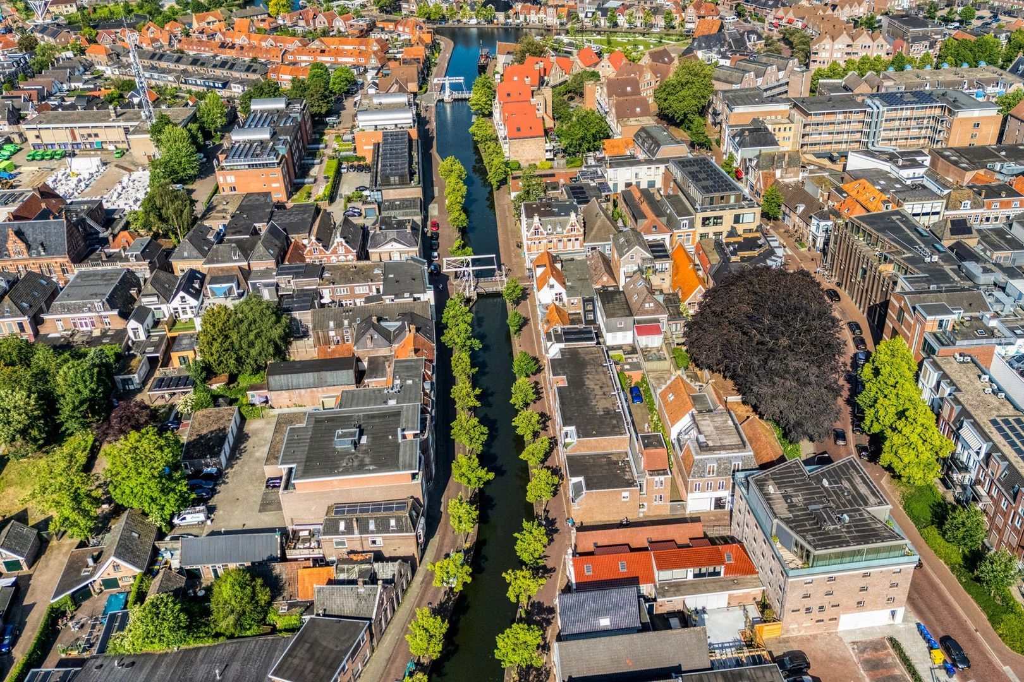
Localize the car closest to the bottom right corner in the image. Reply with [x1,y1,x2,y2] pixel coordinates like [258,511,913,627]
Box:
[938,635,969,667]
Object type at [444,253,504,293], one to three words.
bridge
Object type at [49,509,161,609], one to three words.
house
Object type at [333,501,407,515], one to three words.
solar panel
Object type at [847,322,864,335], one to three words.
vehicle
